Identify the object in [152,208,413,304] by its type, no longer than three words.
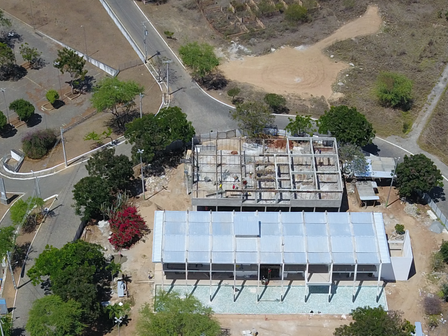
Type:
building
